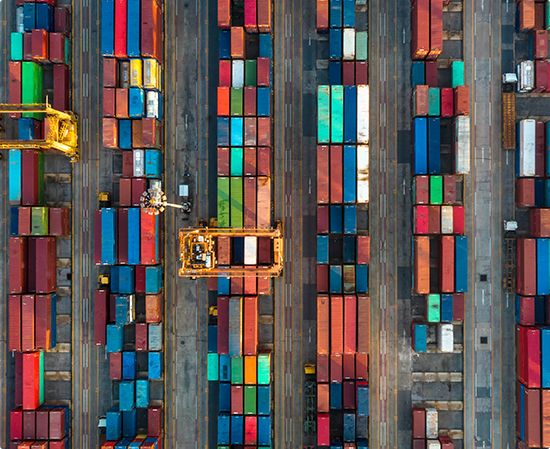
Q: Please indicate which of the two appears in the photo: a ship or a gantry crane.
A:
gantry crane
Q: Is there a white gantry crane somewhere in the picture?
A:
No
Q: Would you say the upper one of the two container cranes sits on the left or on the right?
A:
left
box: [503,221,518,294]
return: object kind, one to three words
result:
vehicle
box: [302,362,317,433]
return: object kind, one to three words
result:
vehicle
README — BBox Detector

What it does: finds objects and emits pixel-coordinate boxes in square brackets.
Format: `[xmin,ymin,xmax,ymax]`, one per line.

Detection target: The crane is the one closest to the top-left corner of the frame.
[0,91,78,166]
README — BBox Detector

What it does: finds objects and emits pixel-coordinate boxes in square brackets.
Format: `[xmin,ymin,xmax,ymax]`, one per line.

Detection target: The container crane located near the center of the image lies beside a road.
[178,220,284,279]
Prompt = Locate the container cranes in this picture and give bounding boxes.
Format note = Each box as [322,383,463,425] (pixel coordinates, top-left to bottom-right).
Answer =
[178,220,284,279]
[0,91,78,166]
